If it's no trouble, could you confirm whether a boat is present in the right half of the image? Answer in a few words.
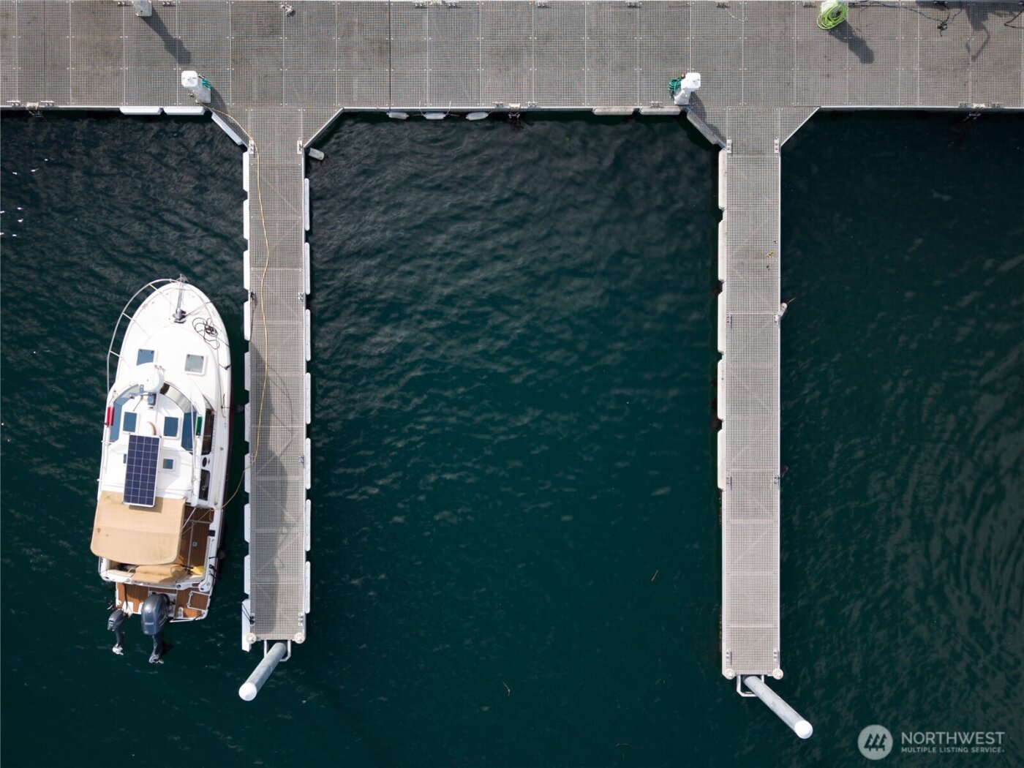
No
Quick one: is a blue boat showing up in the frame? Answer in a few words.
No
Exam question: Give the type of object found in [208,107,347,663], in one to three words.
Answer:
pier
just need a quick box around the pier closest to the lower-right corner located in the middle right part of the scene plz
[684,107,821,698]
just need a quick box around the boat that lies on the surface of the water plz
[92,274,238,662]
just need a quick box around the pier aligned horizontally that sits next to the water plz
[0,0,1024,125]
